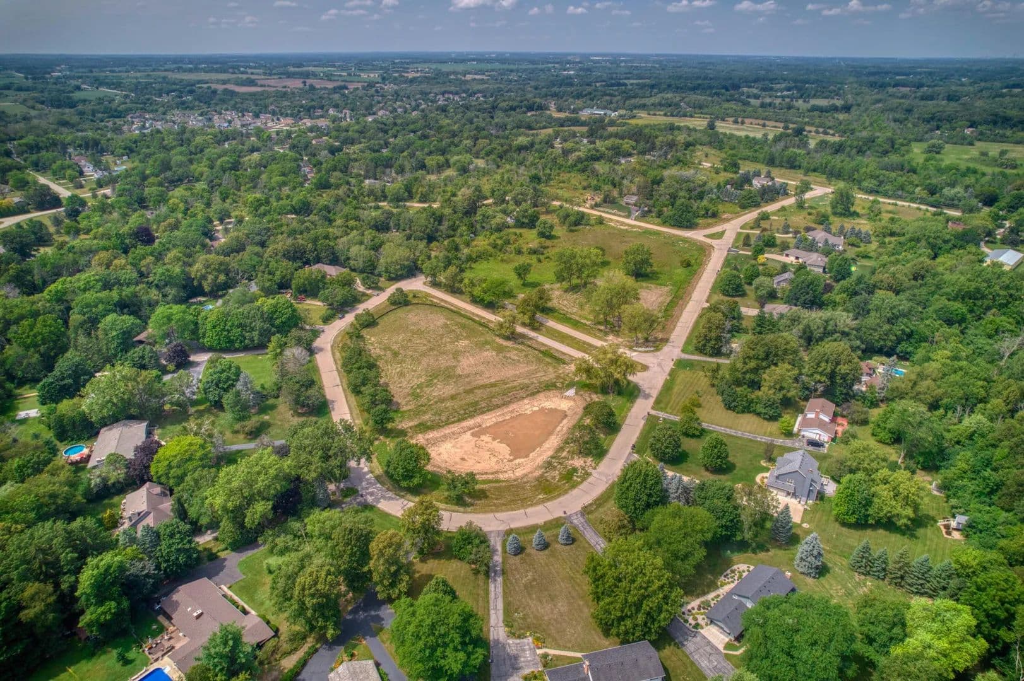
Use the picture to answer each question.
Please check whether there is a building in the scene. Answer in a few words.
Yes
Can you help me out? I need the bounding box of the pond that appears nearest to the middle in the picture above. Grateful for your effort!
[471,412,566,461]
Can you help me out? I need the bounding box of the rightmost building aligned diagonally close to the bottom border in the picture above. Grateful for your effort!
[702,568,797,650]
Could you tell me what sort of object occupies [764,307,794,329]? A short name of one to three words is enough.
house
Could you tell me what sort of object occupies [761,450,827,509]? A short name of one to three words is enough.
house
